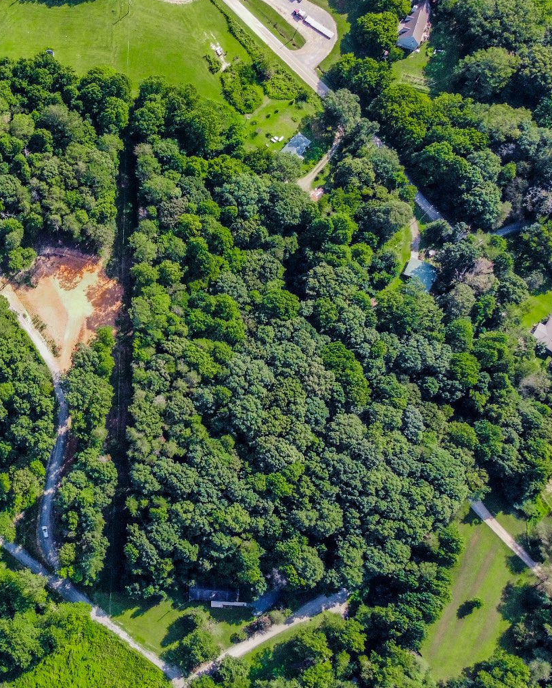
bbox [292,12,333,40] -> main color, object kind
white truck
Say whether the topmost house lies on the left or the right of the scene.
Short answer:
right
